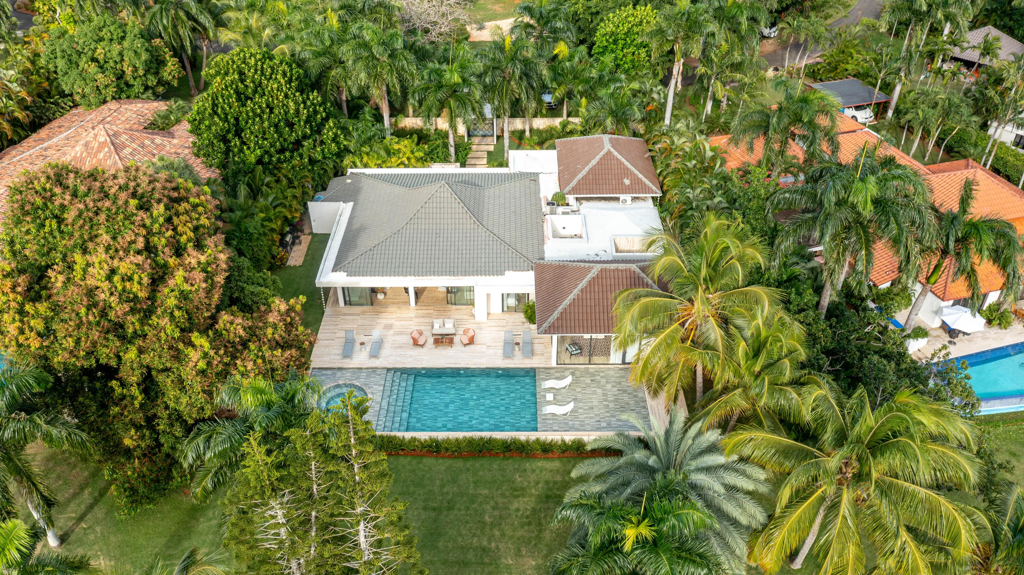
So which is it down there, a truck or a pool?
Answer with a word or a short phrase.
pool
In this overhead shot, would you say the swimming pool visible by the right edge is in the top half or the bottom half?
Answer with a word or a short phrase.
bottom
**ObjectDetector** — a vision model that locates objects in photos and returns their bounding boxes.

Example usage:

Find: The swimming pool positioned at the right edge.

[924,342,1024,431]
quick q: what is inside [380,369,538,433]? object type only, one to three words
swimming pool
